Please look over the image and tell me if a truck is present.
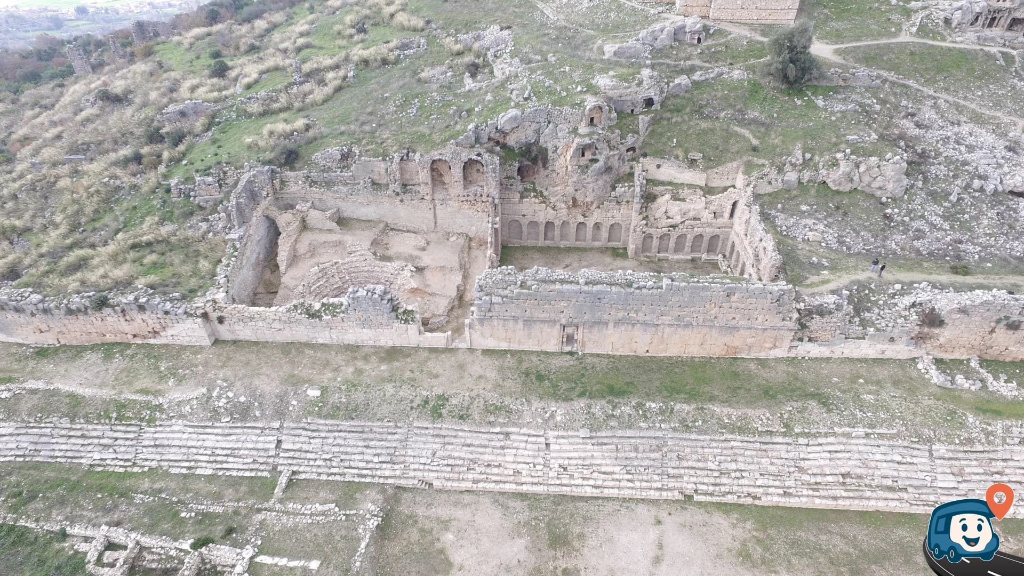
No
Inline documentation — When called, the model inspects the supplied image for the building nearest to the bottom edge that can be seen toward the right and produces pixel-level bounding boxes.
[462,147,811,359]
